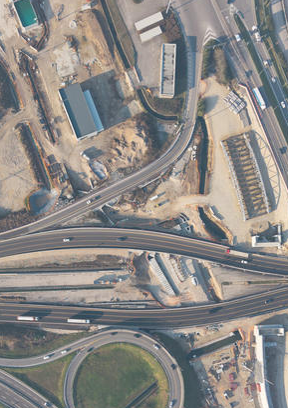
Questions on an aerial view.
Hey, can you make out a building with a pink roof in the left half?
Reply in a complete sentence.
No, looking in the left half, there is no building with a pink roof.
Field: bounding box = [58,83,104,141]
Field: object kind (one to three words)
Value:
building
